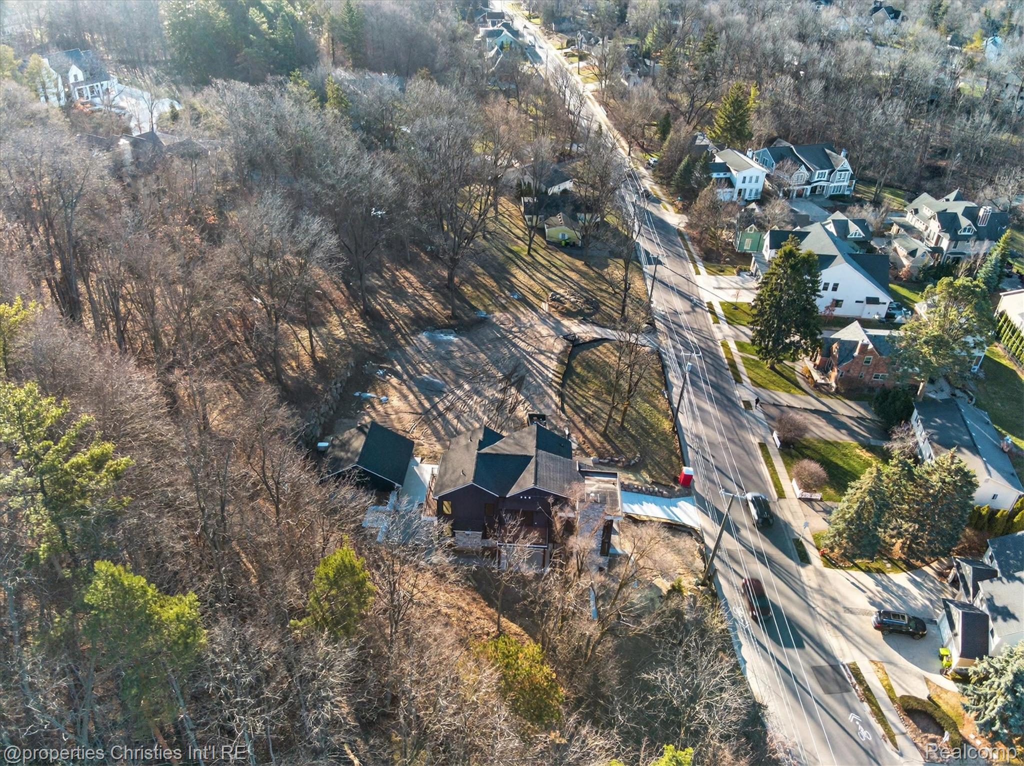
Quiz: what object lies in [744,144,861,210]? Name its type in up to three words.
house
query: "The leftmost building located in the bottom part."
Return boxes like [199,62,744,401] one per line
[316,422,417,498]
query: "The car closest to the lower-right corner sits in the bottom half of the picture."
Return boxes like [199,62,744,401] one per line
[871,604,933,645]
